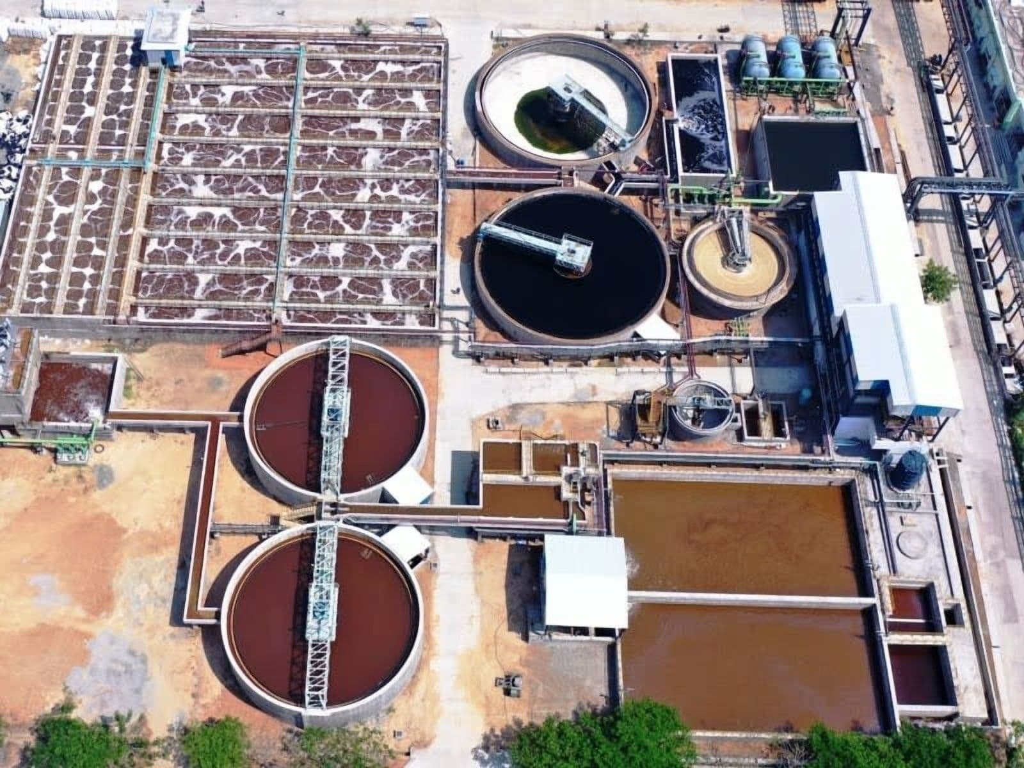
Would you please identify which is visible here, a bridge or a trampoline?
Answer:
bridge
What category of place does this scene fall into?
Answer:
industrial area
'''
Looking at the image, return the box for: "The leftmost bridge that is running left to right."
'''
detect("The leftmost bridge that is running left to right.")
[211,515,286,540]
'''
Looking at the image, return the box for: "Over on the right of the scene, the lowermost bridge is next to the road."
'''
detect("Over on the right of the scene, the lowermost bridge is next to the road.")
[470,320,816,367]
